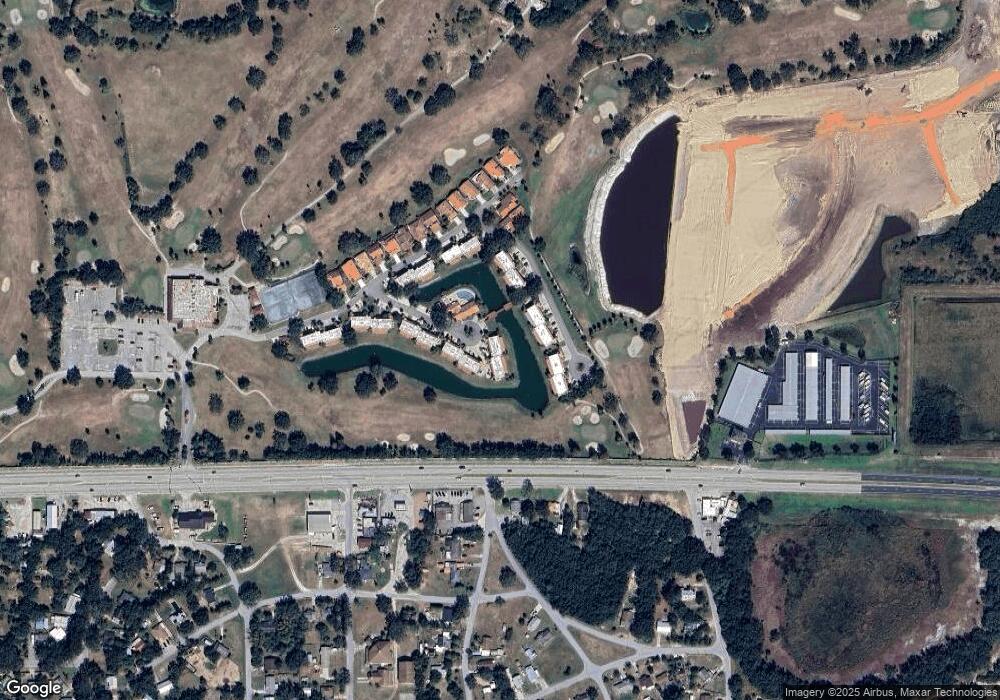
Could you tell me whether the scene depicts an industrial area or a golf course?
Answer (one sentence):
The picture captures a golf course.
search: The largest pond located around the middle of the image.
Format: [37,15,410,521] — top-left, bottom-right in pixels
[302,261,547,411]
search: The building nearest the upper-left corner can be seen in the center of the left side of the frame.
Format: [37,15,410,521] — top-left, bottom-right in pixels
[167,277,219,327]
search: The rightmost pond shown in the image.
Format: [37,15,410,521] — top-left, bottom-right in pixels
[827,216,912,311]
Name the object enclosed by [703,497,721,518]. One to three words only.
building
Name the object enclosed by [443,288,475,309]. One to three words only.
swimming pool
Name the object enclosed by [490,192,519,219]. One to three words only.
house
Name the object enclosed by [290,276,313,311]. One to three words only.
tennis court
